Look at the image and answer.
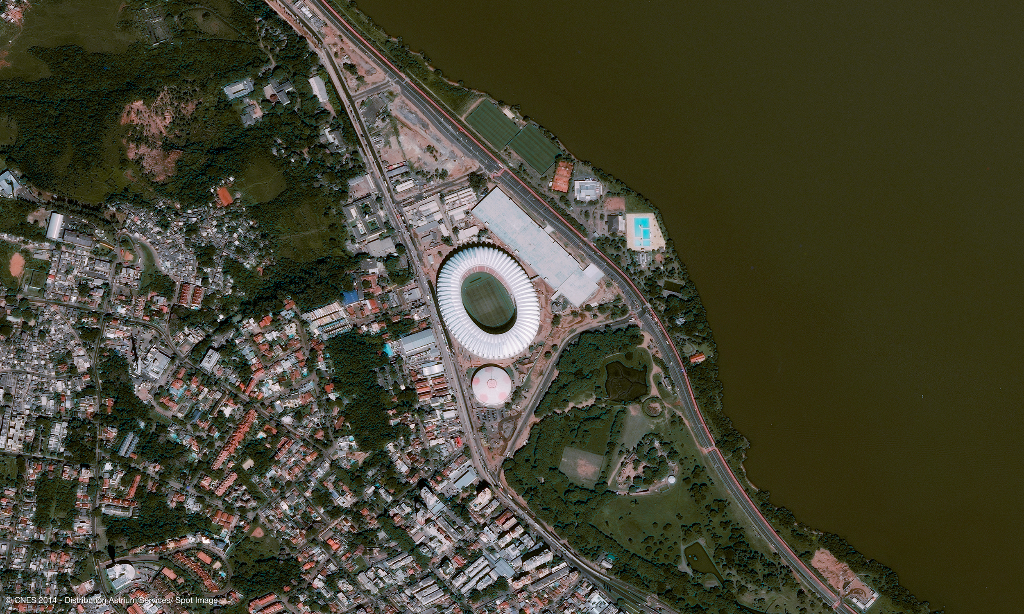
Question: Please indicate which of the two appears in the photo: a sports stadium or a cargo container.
sports stadium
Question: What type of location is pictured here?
residential area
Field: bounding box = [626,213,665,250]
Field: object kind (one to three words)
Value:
swimming pool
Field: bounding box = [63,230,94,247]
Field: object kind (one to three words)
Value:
building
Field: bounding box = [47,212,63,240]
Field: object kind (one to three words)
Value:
building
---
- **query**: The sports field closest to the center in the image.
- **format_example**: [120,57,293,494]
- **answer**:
[465,276,511,327]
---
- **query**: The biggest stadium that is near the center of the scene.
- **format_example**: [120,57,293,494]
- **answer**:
[437,248,540,359]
